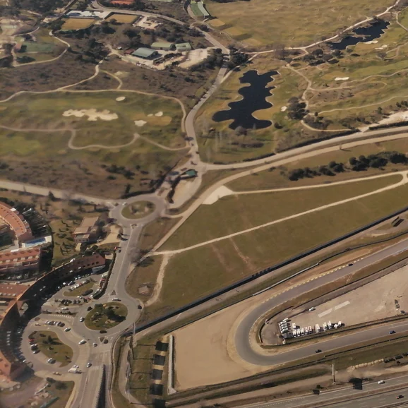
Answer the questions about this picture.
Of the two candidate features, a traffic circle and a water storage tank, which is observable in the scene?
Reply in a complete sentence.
Visible in the photo is a traffic circle.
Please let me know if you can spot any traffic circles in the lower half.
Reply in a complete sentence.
Yes, in the lower half there is a traffic circle.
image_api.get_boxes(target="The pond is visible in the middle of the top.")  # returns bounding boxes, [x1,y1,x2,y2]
[213,69,281,128]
